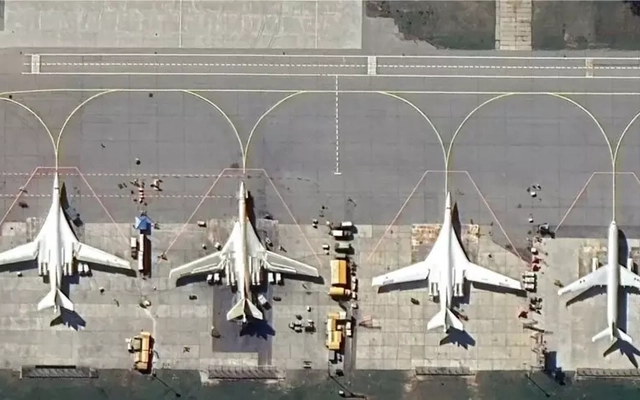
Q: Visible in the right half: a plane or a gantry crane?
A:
plane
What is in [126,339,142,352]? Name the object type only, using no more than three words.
vehicle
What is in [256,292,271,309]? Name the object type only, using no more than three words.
vehicle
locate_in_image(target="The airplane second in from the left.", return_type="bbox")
[168,179,318,320]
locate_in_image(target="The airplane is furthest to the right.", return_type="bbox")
[558,222,640,344]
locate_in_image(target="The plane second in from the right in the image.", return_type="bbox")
[372,192,521,331]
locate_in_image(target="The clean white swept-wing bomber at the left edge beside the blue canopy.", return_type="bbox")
[0,172,130,311]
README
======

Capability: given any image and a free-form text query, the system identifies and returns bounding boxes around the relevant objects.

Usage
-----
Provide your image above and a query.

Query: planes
[168,179,318,320]
[372,192,521,331]
[0,172,130,311]
[558,222,640,344]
